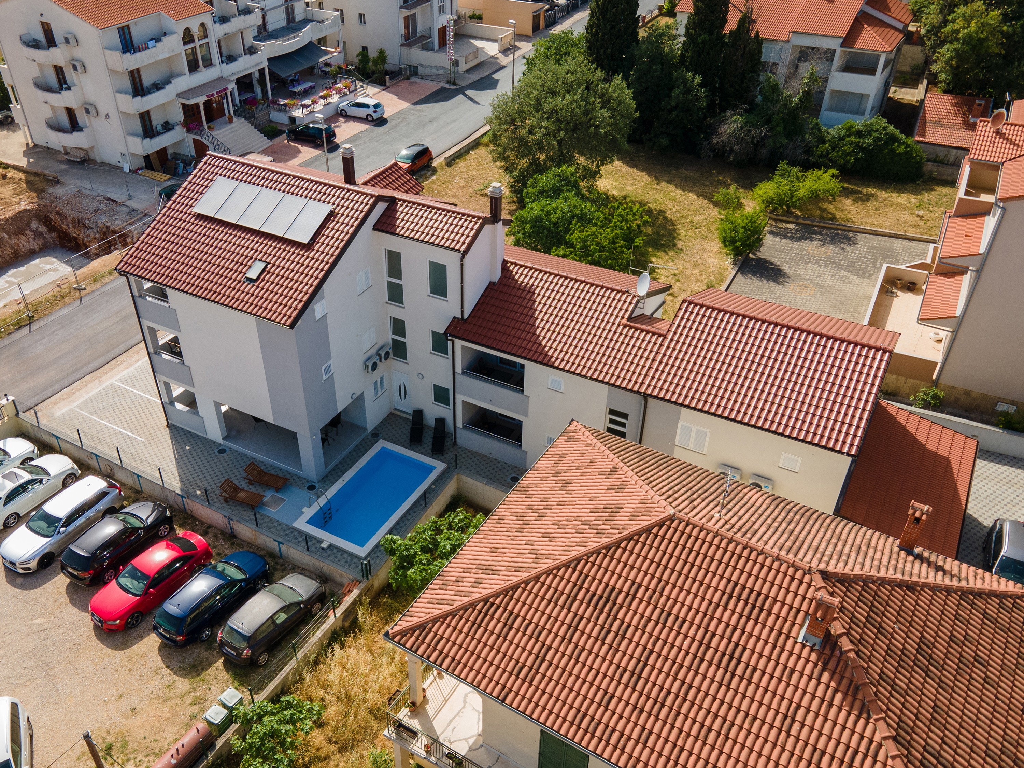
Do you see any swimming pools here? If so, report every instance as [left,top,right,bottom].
[291,438,448,556]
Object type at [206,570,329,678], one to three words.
car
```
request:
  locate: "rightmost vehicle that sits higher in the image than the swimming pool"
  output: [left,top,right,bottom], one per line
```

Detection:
[391,139,439,173]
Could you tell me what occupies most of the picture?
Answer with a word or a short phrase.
buildings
